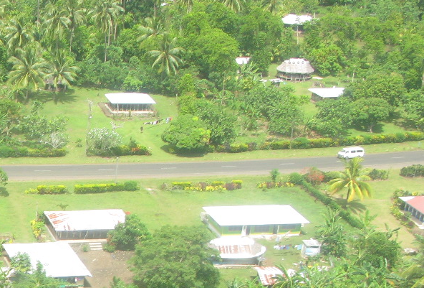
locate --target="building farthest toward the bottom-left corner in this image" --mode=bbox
[15,243,92,288]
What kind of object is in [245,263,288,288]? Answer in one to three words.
shed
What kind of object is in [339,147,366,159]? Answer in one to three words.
vehicle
